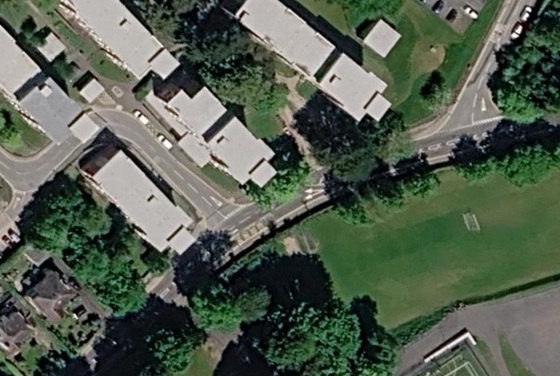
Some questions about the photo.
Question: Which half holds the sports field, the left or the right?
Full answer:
The sports field appears in the right half of the scene.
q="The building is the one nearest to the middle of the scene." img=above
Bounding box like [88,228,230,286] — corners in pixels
[208,117,277,188]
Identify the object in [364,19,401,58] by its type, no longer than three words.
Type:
shed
